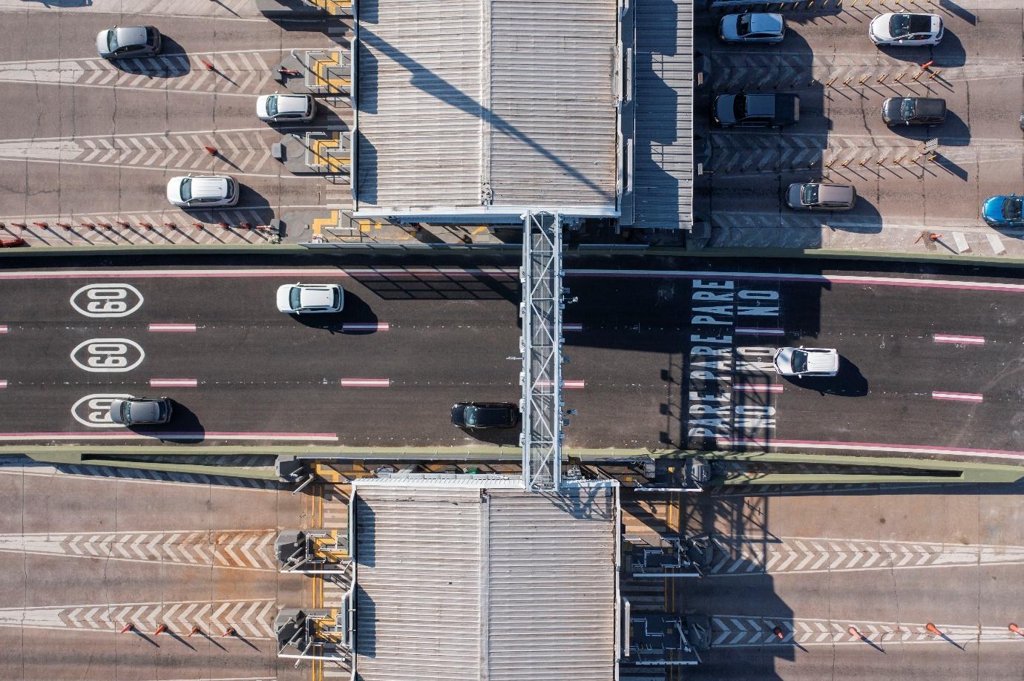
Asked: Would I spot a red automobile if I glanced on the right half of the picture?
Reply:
No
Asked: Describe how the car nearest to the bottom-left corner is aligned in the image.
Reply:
horizontally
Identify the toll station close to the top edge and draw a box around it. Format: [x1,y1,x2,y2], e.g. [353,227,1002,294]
[350,0,695,235]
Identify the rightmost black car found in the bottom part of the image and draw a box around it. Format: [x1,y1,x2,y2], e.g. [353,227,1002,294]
[451,399,518,433]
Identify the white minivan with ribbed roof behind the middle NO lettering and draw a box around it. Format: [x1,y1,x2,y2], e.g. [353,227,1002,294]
[773,344,838,379]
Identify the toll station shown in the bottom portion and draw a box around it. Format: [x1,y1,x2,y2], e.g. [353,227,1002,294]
[350,462,632,681]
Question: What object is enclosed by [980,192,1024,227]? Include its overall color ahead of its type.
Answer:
blue car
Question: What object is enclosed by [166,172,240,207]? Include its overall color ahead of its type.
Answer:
white car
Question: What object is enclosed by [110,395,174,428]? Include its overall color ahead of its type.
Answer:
gray car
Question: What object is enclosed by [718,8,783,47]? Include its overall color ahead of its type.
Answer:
blue car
